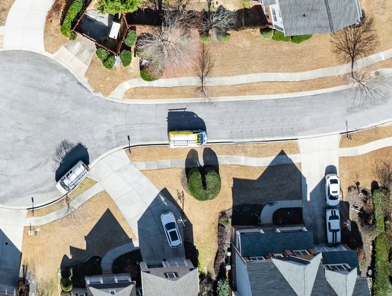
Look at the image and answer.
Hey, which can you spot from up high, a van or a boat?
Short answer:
van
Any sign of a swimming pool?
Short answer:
No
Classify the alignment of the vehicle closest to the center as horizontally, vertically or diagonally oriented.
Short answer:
horizontally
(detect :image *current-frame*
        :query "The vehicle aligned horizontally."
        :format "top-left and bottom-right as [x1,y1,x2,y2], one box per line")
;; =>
[167,128,208,148]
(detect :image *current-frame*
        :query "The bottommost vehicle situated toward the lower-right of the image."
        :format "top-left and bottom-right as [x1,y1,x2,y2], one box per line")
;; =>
[323,208,342,243]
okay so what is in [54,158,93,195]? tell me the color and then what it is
white van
